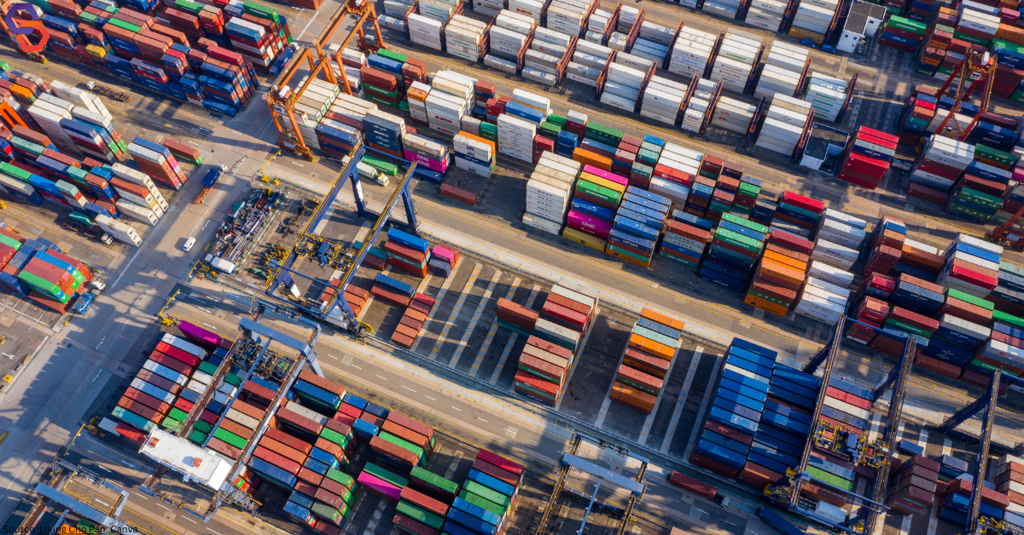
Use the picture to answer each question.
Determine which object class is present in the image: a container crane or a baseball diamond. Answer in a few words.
container crane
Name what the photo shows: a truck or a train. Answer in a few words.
truck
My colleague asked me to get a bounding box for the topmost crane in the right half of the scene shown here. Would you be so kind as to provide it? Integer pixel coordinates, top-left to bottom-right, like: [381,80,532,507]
[918,43,1003,149]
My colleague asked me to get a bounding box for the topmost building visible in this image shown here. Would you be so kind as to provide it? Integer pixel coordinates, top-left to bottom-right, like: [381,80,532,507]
[836,0,887,53]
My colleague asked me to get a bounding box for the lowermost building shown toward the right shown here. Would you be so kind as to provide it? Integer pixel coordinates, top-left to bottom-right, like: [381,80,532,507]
[800,121,850,175]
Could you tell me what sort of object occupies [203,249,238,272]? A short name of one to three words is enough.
truck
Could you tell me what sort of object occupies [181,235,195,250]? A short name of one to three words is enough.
vehicle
